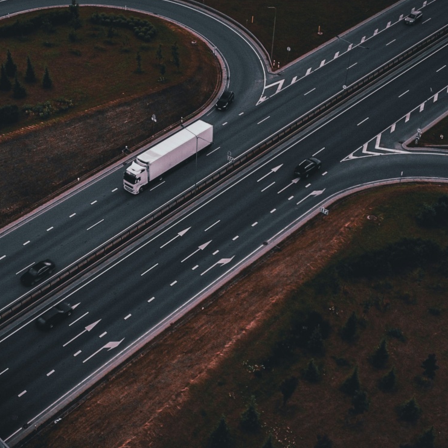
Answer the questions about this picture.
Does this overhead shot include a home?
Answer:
No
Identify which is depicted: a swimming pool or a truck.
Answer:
truck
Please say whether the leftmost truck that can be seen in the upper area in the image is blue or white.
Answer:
white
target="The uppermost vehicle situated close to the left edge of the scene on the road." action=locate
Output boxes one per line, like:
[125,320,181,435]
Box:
[15,255,53,282]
